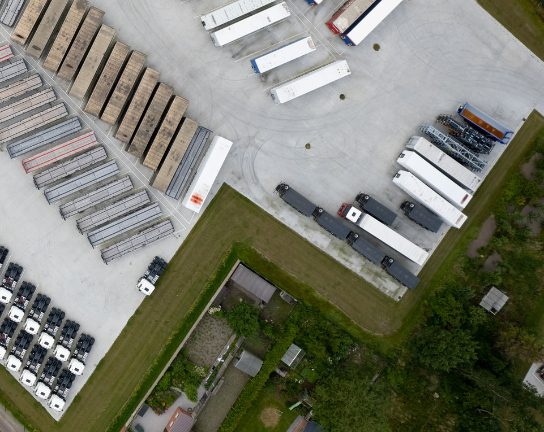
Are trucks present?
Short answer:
Yes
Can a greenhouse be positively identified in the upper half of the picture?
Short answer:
No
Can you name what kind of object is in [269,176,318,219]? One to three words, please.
trailer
